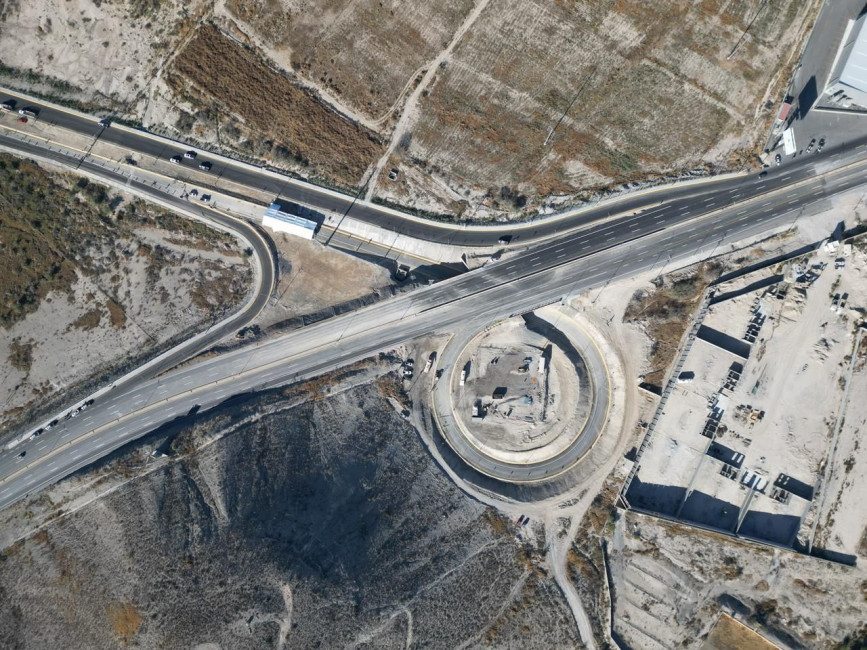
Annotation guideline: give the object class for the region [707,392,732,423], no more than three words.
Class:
building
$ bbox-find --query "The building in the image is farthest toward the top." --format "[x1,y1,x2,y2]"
[826,10,867,107]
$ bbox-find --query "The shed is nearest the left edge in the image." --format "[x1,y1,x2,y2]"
[257,201,315,244]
